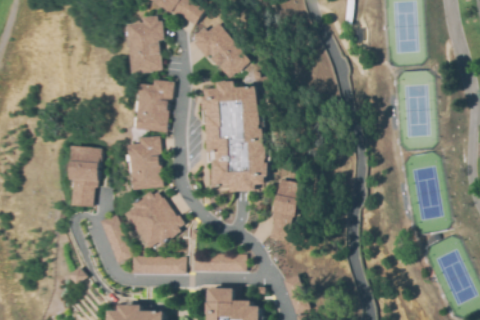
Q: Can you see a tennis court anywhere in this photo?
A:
Yes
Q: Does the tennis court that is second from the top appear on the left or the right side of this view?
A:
right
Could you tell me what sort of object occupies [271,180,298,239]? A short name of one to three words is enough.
house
